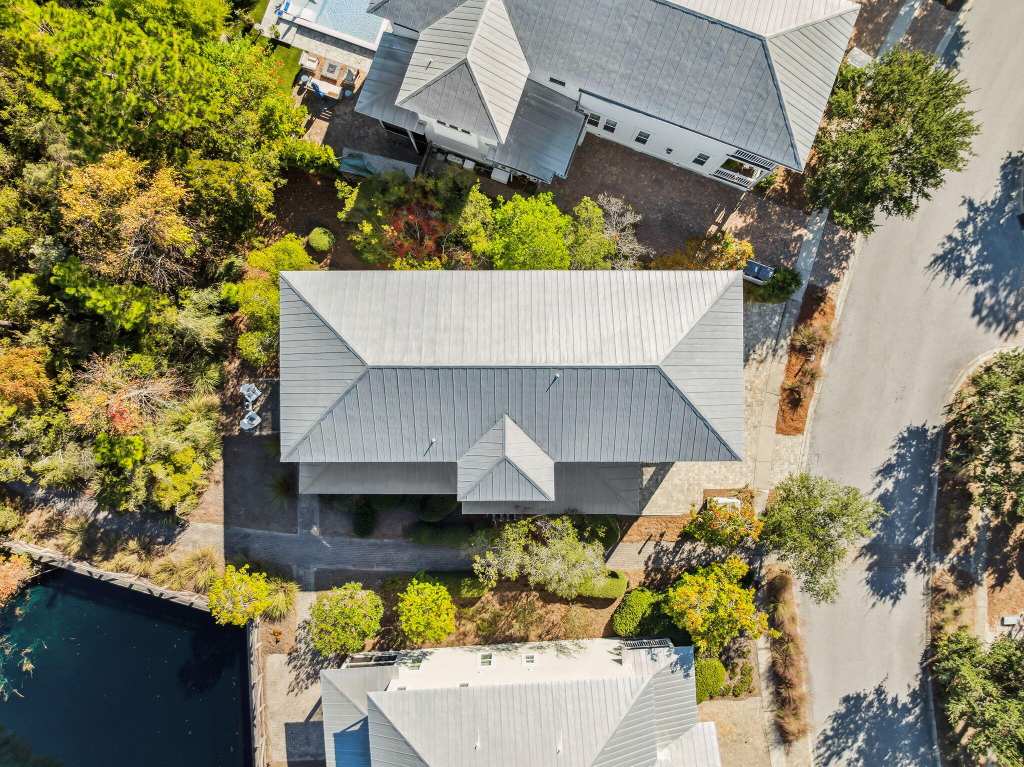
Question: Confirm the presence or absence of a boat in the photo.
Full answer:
No, there is no boat in the image.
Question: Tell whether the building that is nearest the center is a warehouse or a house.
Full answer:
The building that is nearest the center appears to be a house.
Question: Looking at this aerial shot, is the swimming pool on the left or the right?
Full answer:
The swimming pool appears in the left half of the scene.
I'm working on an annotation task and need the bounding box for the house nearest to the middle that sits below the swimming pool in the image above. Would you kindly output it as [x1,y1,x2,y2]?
[279,268,745,515]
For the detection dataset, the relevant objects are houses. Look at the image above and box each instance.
[279,268,745,515]
[319,637,720,767]
[353,0,866,191]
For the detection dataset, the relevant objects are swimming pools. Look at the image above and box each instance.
[277,0,390,55]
